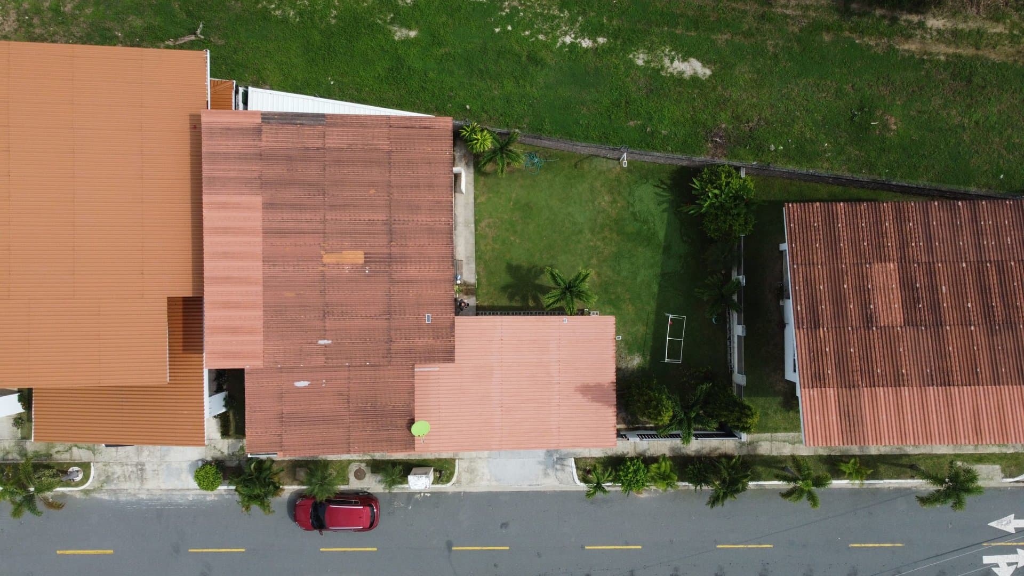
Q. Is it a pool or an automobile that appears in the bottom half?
automobile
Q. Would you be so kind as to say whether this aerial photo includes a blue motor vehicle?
No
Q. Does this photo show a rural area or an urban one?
urban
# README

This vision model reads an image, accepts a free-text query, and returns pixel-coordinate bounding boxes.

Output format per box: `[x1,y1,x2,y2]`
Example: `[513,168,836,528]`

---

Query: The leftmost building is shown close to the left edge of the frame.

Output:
[0,43,242,445]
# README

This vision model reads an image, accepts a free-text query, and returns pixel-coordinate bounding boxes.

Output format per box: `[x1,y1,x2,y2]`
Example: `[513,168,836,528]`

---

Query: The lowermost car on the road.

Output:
[294,490,382,535]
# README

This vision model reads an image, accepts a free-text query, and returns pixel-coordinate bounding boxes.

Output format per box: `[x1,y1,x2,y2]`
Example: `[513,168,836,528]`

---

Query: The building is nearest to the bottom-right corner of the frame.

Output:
[781,203,1024,447]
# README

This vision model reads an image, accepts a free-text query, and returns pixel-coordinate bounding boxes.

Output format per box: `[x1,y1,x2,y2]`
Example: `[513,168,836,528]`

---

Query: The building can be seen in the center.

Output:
[201,109,617,463]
